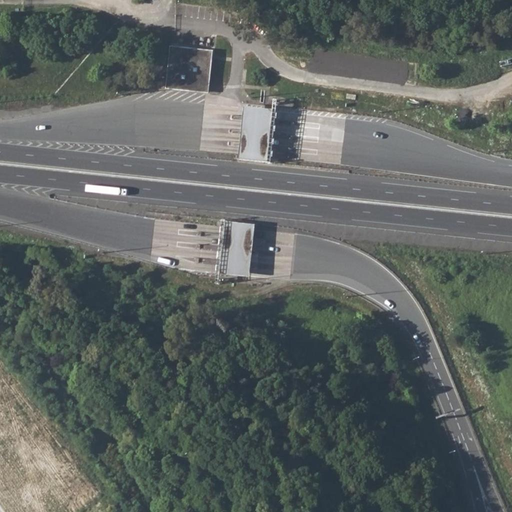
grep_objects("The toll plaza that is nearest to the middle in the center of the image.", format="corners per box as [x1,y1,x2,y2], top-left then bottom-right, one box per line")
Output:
[152,216,296,280]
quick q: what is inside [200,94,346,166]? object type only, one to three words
toll station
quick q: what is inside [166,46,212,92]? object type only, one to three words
building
